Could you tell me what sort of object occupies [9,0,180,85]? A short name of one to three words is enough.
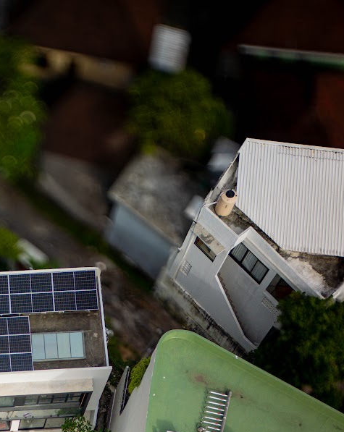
house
